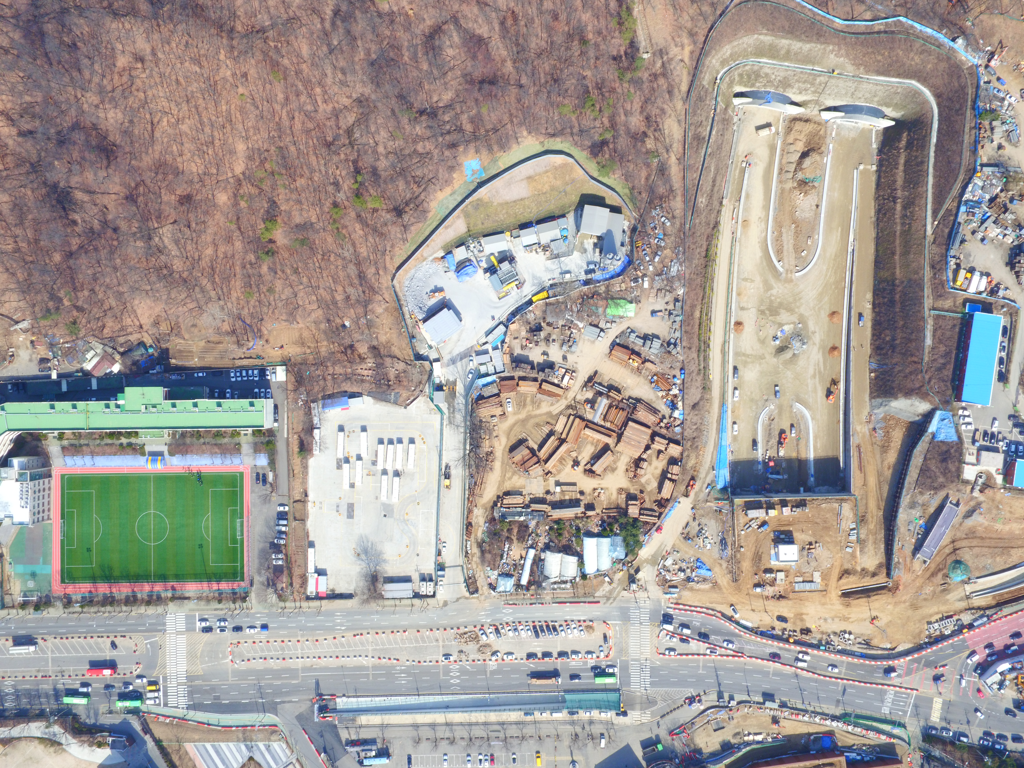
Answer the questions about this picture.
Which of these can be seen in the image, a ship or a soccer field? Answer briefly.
soccer field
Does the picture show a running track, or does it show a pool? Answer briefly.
running track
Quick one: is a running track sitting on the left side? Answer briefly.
Yes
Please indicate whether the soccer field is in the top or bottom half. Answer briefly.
bottom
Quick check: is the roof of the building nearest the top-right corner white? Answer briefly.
No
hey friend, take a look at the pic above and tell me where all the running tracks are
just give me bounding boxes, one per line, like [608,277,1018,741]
[52,465,250,594]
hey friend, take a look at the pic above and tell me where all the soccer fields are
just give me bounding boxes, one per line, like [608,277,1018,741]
[60,472,244,584]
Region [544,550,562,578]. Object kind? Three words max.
greenhouse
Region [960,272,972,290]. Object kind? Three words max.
vehicle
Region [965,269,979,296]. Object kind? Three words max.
vehicle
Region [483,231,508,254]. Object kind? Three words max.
shed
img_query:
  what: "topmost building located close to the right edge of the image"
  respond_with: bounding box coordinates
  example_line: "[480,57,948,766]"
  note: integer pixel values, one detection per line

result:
[953,302,1003,406]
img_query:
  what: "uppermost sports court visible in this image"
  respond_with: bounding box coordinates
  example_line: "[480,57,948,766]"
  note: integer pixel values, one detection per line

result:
[10,523,53,594]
